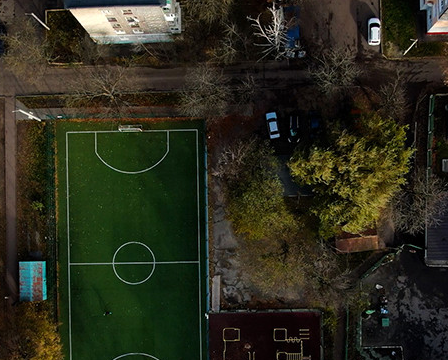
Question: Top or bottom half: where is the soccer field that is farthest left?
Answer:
bottom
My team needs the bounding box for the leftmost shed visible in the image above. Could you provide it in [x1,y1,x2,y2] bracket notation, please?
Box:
[19,260,51,302]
